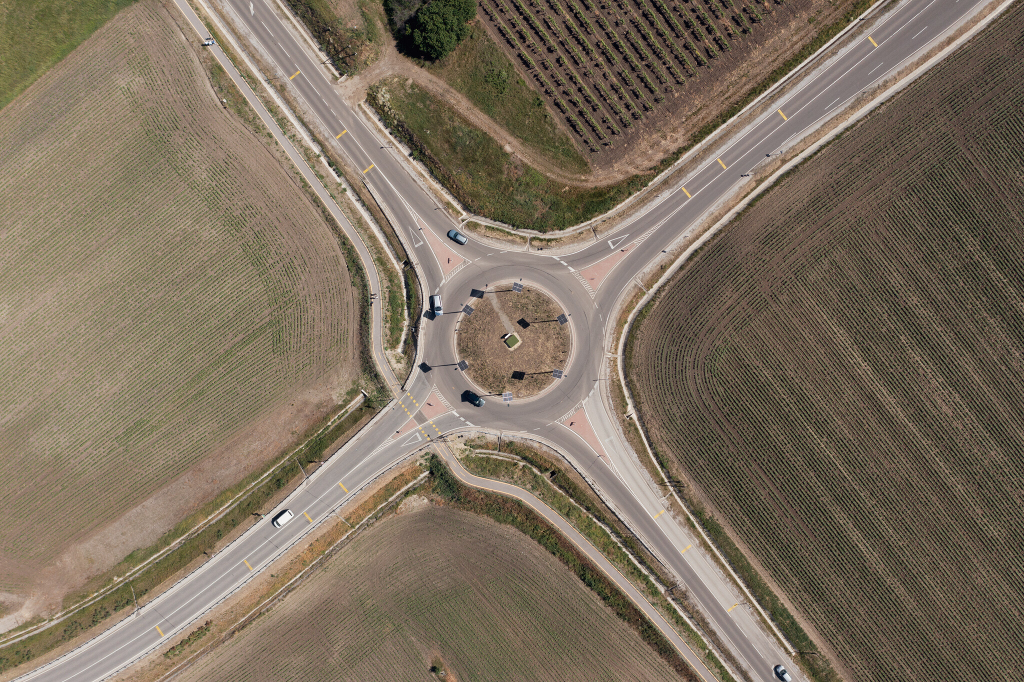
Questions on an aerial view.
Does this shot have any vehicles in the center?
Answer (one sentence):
Yes, a vehicle is visible in the center.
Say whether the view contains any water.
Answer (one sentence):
No, the picture contains no water.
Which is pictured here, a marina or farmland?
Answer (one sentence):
The picture captures farmland.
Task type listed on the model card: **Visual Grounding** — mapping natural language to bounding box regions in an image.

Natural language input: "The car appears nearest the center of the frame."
[463,390,485,407]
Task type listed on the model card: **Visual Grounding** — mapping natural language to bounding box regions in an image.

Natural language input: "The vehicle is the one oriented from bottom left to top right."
[272,510,294,529]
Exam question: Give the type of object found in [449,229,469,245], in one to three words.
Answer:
car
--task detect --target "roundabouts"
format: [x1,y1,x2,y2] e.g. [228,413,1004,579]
[420,226,604,433]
